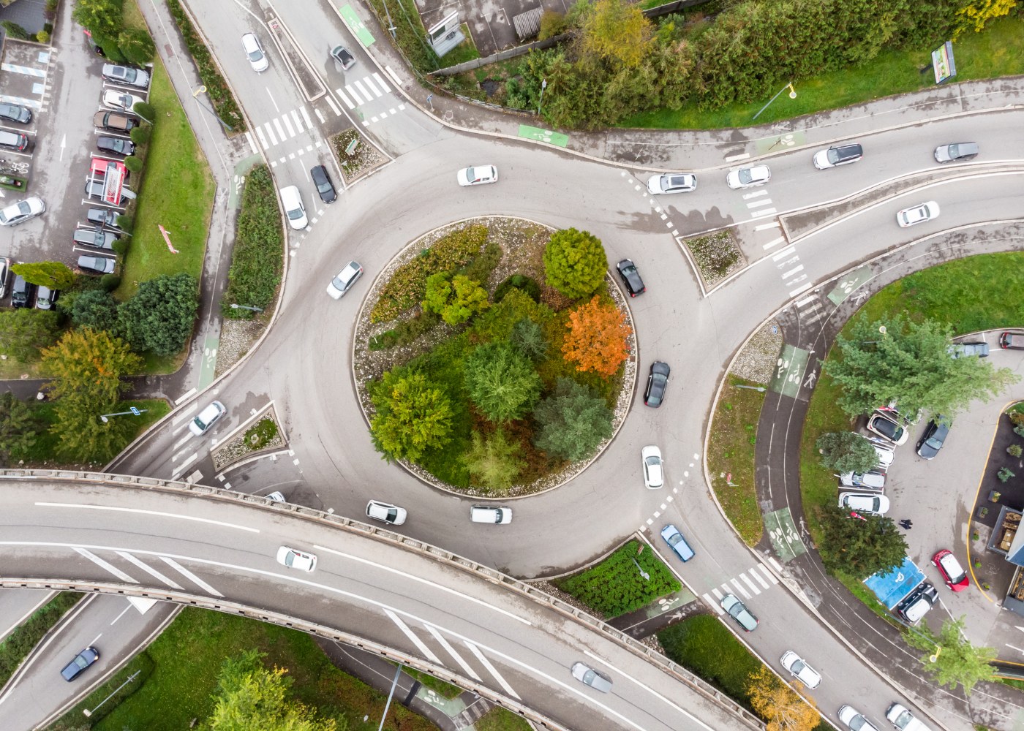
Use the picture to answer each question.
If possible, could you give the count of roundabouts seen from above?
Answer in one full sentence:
The count comes to 1 roundabout.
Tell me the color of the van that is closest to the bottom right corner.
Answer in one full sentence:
In this view, the van that is closest to the bottom right corner is white.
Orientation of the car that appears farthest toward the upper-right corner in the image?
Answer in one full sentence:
Seen from above, the car that appears farthest toward the upper-right corner lies from left to right.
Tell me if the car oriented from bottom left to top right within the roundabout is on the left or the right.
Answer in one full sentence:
It is on the left.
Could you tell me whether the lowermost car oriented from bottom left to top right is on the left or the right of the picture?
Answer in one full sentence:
The lowermost car oriented from bottom left to top right sits on the left side.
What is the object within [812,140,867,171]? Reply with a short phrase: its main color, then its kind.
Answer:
white car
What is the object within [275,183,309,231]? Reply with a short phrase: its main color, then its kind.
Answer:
white van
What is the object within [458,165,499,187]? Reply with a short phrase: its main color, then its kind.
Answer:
white car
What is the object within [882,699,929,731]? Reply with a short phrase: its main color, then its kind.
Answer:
white van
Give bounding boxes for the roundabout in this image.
[218,146,705,568]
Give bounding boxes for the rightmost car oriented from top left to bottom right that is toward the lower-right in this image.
[931,547,970,594]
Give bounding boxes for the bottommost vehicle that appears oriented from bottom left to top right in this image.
[57,644,101,686]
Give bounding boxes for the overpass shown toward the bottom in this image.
[0,468,777,731]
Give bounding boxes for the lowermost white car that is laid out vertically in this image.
[641,445,663,490]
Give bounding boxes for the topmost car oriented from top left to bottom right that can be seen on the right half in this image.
[615,258,647,298]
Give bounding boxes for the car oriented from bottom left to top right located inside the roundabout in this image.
[324,257,367,300]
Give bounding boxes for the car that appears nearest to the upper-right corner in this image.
[931,140,981,164]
